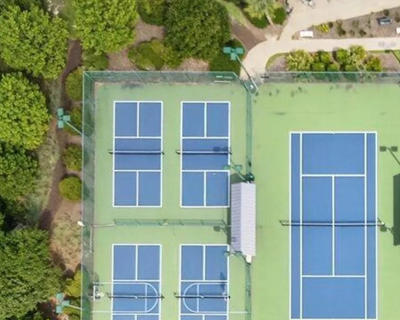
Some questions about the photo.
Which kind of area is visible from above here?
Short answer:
sports ground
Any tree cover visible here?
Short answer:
Yes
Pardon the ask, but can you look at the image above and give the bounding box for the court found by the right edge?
[249,84,400,320]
